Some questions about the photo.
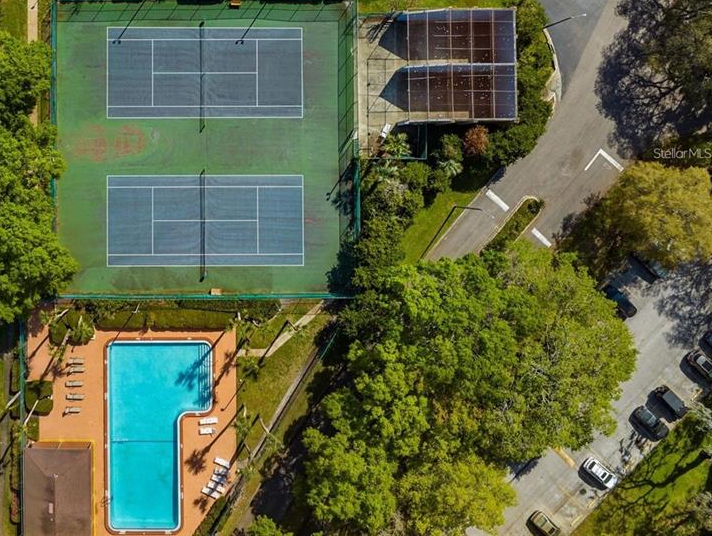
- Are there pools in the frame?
Yes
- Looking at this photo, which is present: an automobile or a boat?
automobile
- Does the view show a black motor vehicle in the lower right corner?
Yes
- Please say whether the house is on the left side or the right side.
left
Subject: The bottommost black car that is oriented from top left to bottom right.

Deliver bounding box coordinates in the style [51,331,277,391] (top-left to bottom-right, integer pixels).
[631,406,672,442]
